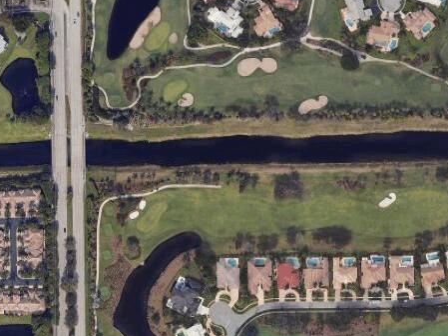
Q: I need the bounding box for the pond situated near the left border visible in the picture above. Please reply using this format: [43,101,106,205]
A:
[0,58,38,116]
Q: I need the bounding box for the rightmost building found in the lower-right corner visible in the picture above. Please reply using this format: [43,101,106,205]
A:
[420,266,448,292]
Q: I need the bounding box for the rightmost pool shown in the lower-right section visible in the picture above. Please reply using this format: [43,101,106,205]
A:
[426,251,442,264]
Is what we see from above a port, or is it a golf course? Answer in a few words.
golf course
